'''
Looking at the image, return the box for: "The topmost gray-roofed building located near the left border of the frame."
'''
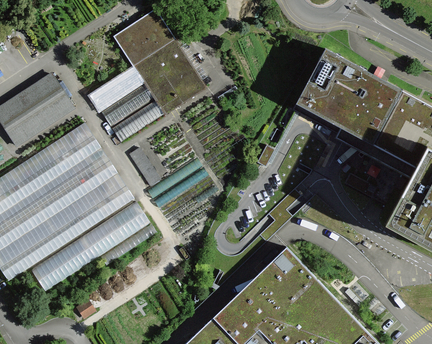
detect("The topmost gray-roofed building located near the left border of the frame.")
[0,72,74,145]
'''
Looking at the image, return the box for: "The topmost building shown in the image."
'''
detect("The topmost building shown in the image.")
[114,12,175,65]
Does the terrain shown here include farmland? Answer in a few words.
No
